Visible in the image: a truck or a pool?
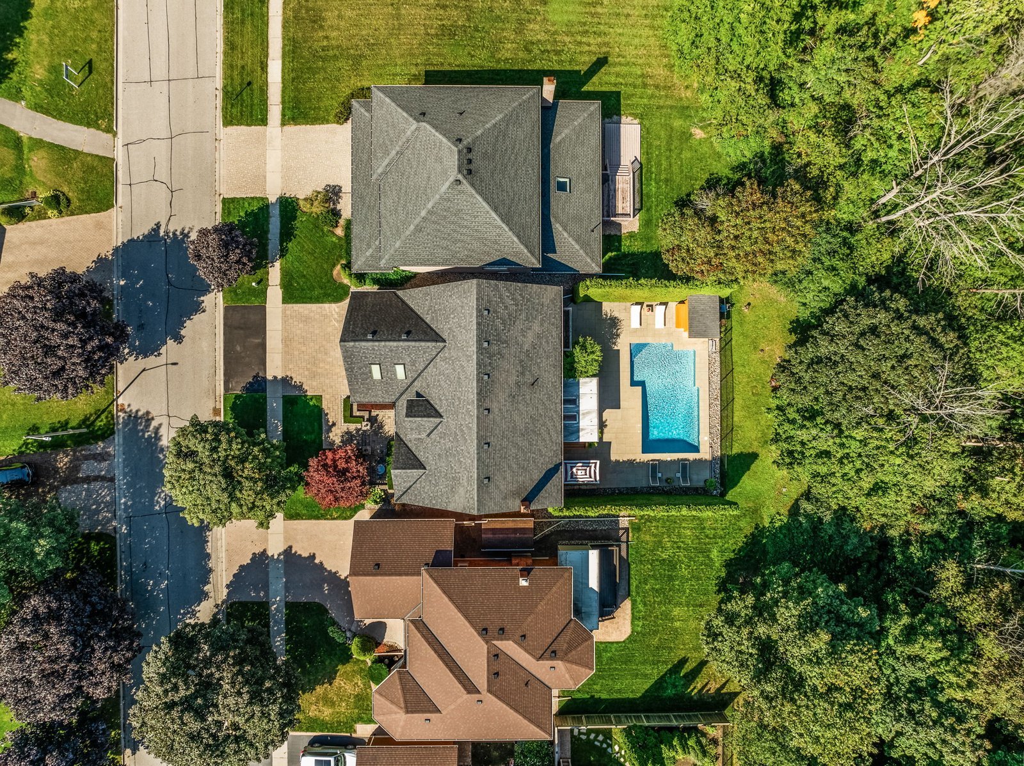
pool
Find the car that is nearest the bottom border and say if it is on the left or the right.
left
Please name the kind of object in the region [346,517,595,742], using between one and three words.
house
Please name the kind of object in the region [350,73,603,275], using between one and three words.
house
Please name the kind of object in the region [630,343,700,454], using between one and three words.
swimming pool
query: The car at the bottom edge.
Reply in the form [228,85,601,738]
[301,743,355,766]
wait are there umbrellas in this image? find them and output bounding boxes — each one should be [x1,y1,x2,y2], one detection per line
[565,460,599,484]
